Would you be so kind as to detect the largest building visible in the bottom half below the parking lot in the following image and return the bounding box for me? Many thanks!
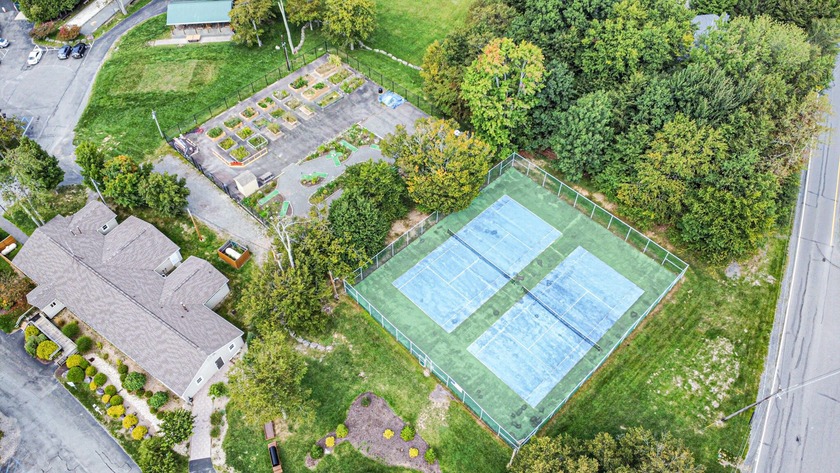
[11,201,246,403]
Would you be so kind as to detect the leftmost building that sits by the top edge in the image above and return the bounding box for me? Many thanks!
[167,0,239,33]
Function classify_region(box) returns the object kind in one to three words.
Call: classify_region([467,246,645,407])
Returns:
tennis court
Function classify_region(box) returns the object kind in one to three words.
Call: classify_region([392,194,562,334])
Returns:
tennis court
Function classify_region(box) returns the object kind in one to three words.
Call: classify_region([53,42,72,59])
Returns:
car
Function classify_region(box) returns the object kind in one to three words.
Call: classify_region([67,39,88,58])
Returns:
car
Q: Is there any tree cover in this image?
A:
Yes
